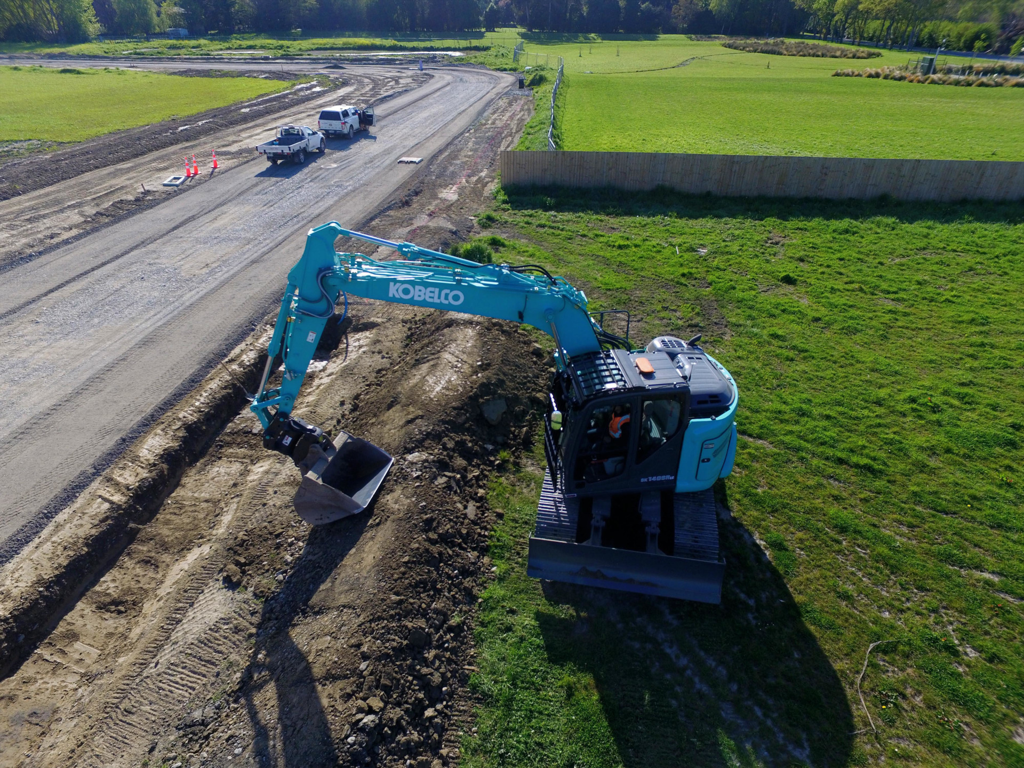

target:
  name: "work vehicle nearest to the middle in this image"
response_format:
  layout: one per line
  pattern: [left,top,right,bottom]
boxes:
[247,214,742,604]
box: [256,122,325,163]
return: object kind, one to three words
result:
truck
